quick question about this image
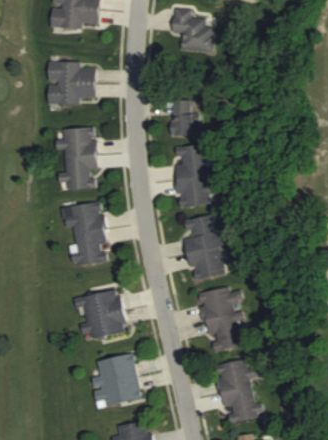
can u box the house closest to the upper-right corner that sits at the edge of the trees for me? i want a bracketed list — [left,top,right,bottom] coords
[170,9,216,54]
